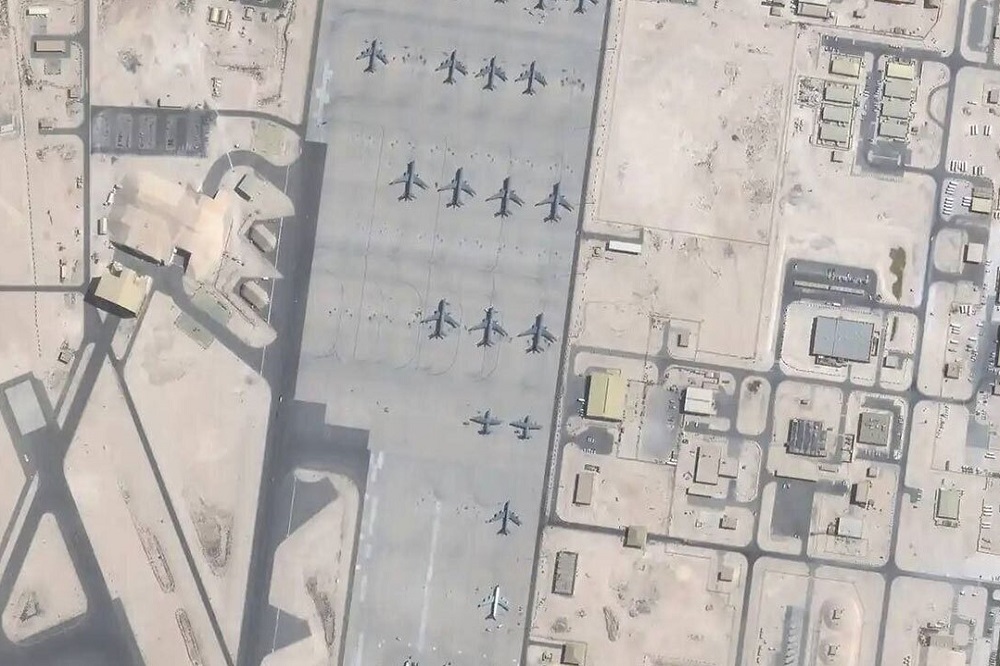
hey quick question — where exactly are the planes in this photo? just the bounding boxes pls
[438,48,470,82]
[518,60,549,93]
[481,585,512,619]
[512,416,541,439]
[423,297,461,337]
[441,165,479,205]
[489,175,527,215]
[472,306,510,346]
[492,500,522,534]
[521,312,560,352]
[538,0,549,8]
[394,158,432,198]
[359,38,391,71]
[474,410,503,434]
[479,55,509,88]
[539,180,576,220]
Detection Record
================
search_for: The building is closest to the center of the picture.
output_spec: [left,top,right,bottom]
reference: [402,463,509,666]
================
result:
[585,371,626,419]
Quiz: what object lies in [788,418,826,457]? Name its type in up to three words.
building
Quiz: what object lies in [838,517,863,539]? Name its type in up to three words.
building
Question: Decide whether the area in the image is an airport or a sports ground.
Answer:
airport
